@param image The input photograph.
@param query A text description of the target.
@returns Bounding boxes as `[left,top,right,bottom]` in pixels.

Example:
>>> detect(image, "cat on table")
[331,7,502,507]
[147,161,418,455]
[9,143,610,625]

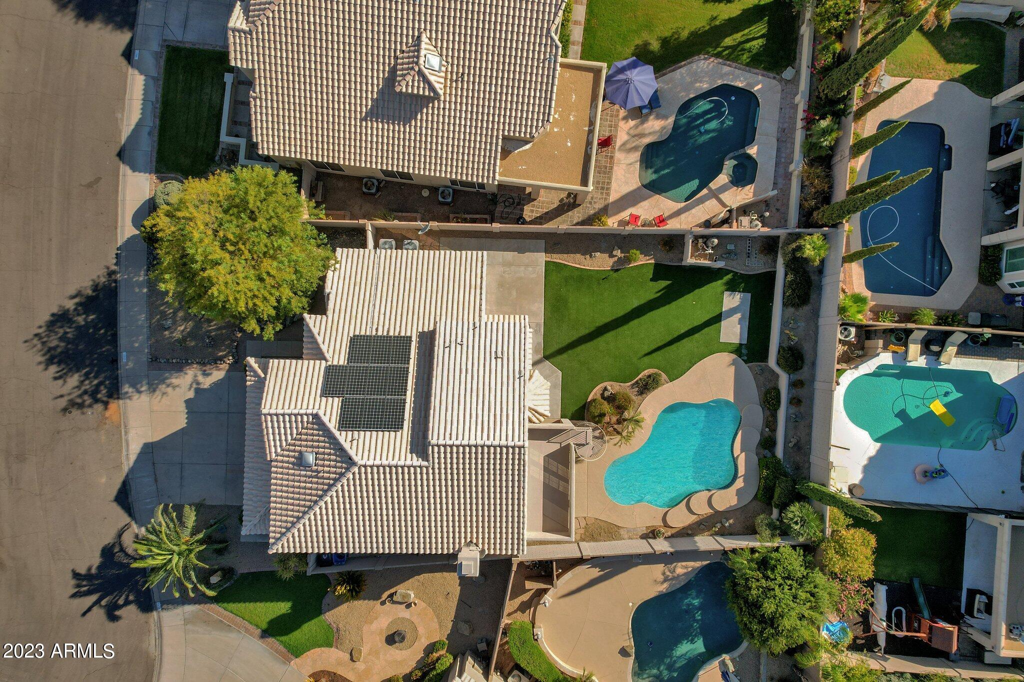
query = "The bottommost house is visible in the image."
[455,637,490,682]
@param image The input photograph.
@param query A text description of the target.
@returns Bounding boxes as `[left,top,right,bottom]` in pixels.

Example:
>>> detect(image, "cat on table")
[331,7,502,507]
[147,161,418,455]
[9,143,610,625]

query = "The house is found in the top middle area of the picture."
[228,0,606,207]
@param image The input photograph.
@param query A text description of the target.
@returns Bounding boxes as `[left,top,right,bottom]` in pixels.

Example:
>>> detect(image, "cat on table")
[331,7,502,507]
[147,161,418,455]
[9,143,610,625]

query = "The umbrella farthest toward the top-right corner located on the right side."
[604,57,658,109]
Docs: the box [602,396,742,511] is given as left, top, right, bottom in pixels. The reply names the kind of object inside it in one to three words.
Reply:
swimming pool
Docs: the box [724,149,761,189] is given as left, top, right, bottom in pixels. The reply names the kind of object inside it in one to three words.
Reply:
swimming pool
